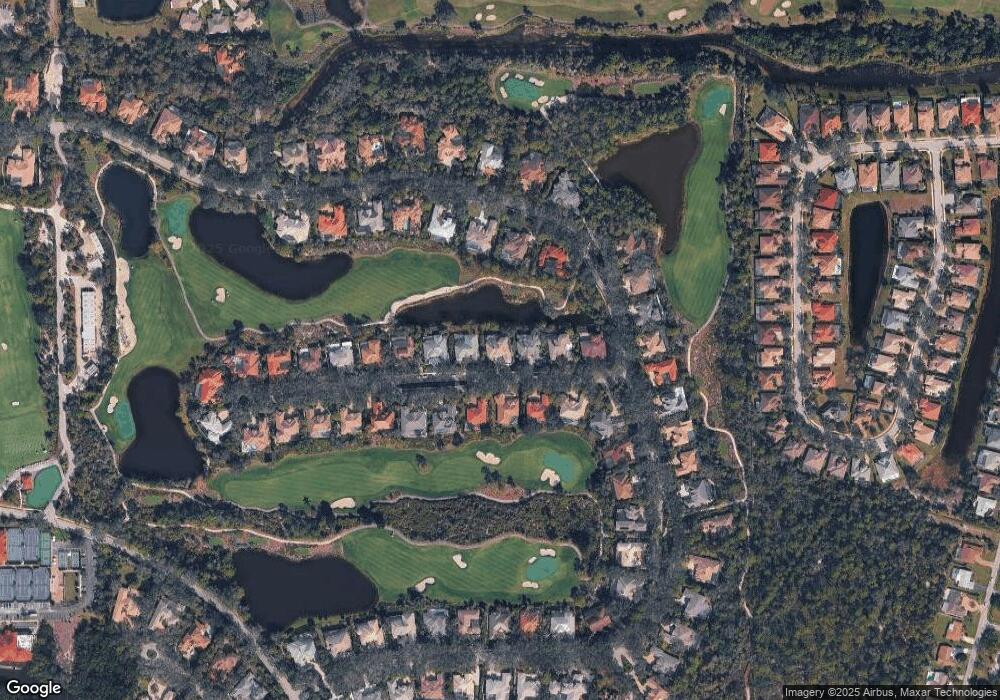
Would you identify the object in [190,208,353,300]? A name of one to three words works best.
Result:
pond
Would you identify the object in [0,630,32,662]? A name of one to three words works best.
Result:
building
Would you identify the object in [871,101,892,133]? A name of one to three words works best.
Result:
house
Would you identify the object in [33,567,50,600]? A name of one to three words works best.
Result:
tennis court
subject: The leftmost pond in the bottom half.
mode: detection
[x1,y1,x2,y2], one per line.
[120,366,202,480]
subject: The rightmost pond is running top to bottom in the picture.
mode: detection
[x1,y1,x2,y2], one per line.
[942,194,1000,457]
